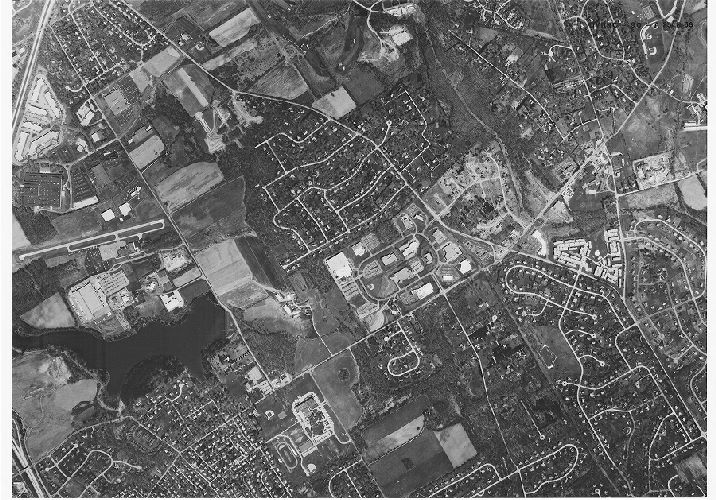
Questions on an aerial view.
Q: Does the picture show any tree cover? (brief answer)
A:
Yes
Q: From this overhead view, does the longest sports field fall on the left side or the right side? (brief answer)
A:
right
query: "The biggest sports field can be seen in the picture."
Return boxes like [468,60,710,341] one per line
[531,328,580,383]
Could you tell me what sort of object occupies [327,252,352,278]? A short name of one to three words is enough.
building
